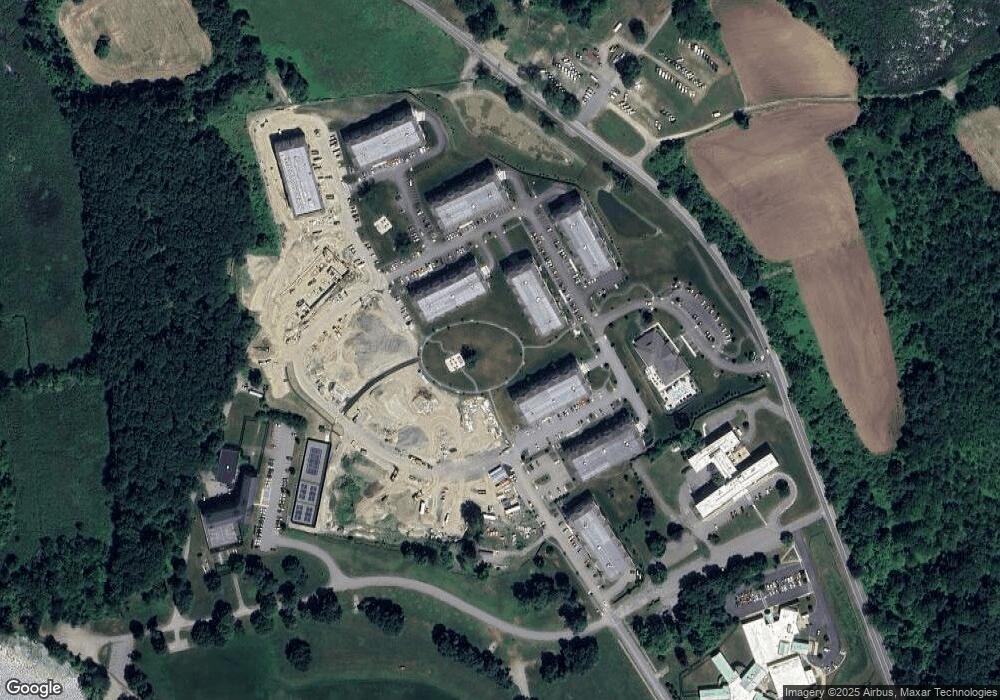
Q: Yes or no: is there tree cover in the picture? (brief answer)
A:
Yes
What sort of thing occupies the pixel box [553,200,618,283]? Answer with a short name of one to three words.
building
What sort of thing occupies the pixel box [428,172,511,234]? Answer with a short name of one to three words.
building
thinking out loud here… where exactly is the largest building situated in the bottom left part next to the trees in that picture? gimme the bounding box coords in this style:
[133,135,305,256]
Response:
[201,475,257,553]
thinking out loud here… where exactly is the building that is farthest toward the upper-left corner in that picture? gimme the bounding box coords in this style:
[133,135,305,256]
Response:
[273,140,327,220]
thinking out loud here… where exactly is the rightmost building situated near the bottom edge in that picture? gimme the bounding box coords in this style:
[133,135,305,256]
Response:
[699,606,816,700]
